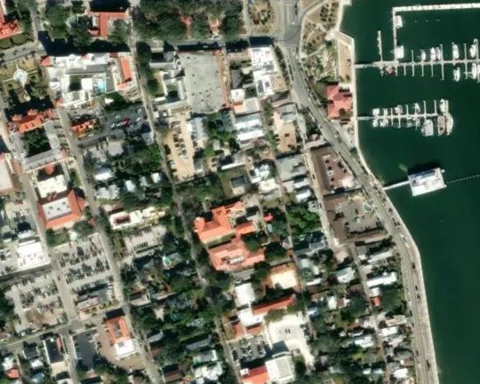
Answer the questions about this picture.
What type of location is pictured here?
residential area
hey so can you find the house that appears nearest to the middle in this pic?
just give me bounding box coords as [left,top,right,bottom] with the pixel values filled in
[229,174,250,195]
